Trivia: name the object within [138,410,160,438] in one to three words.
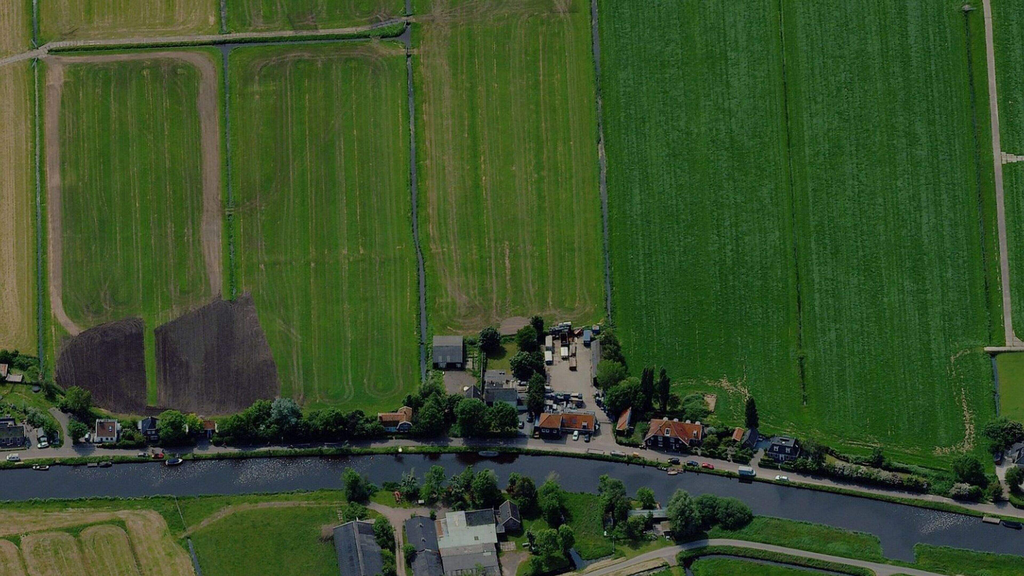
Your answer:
house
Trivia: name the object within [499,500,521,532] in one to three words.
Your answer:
house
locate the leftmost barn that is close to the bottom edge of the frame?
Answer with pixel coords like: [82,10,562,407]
[333,521,381,576]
